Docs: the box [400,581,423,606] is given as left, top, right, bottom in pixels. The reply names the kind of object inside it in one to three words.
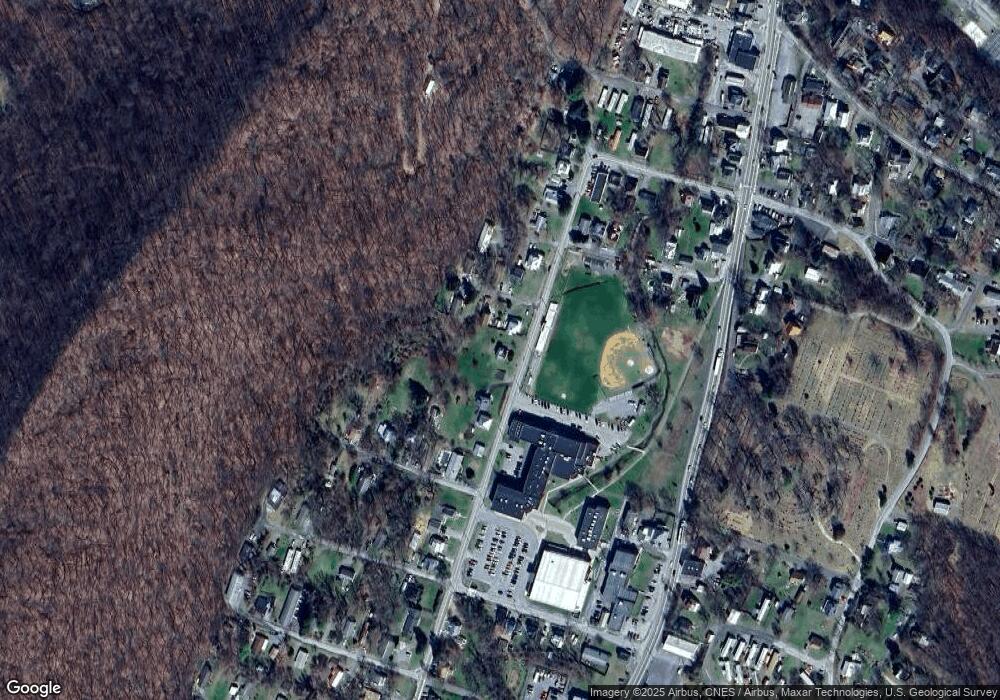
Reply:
house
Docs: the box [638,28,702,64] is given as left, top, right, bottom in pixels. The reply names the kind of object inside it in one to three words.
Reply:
building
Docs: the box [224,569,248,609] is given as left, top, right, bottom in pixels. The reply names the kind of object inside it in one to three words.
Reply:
building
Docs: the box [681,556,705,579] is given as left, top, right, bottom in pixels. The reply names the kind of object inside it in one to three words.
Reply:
house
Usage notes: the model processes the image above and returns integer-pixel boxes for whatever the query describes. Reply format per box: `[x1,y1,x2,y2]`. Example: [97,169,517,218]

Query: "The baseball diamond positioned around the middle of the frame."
[533,276,657,412]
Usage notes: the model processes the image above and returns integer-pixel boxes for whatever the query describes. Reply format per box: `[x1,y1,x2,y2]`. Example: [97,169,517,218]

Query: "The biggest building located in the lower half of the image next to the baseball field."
[491,421,600,520]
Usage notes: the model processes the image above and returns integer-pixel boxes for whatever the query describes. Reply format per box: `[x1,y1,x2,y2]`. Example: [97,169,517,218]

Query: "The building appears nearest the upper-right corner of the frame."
[963,21,987,46]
